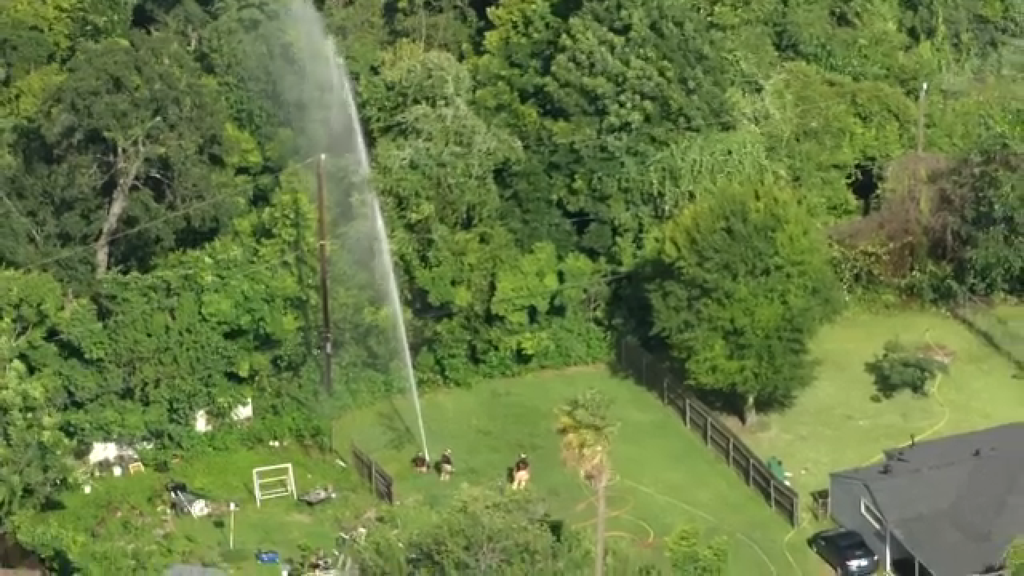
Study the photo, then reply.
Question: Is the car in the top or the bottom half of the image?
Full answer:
The car sits in the bottom half of the picture.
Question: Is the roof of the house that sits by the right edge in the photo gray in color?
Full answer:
Yes, gray is the color of the roof of the house that sits by the right edge.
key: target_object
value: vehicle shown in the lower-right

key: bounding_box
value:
[808,527,879,576]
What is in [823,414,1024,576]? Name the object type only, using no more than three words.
house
